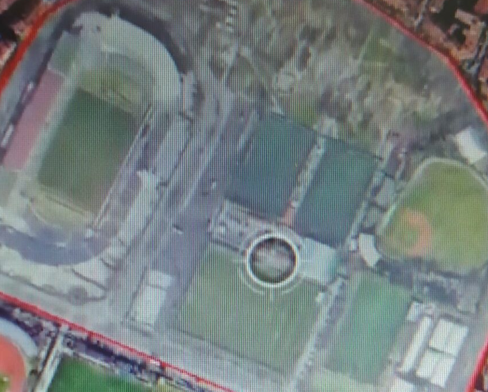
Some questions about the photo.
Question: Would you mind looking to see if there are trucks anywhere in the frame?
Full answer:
No, I find no truck anywhere in the image.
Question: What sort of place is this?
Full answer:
This image shows a sports ground.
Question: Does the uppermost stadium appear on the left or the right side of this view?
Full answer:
The uppermost stadium sits on the left side.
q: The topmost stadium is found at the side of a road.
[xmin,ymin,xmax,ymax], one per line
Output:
[0,12,184,289]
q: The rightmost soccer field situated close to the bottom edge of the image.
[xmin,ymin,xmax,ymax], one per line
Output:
[325,270,410,381]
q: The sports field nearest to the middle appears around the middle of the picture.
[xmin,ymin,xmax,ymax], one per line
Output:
[222,114,318,215]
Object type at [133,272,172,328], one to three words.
building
